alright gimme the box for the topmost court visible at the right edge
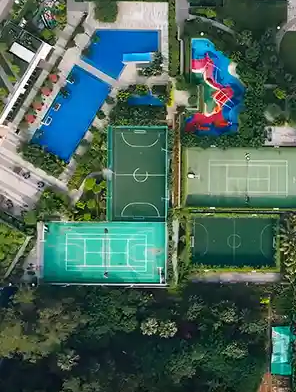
[186,147,296,207]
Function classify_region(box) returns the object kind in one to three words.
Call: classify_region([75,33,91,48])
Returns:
gazebo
